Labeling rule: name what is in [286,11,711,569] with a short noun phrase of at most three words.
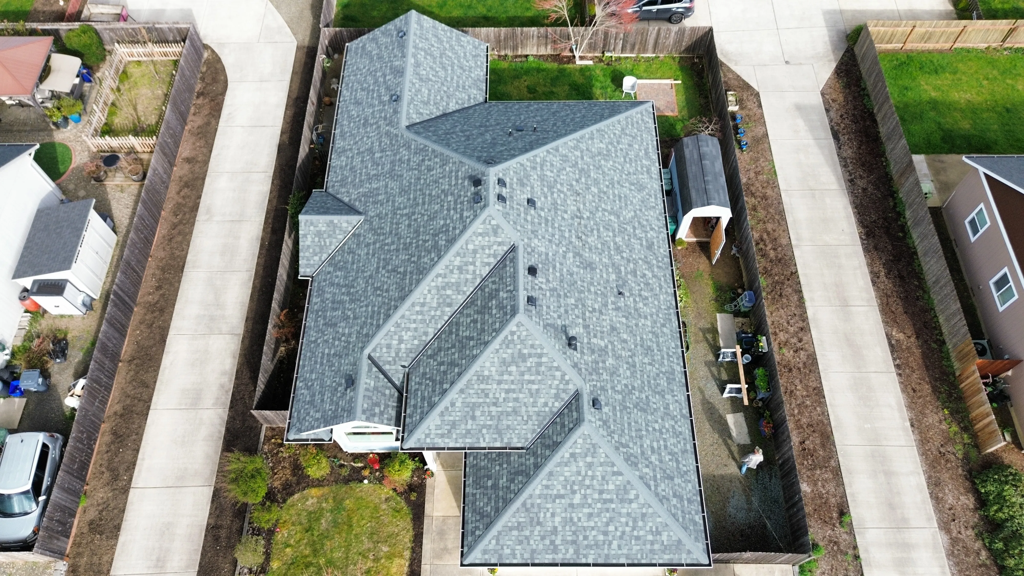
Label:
house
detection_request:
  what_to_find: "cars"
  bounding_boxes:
[605,0,694,23]
[0,425,69,545]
